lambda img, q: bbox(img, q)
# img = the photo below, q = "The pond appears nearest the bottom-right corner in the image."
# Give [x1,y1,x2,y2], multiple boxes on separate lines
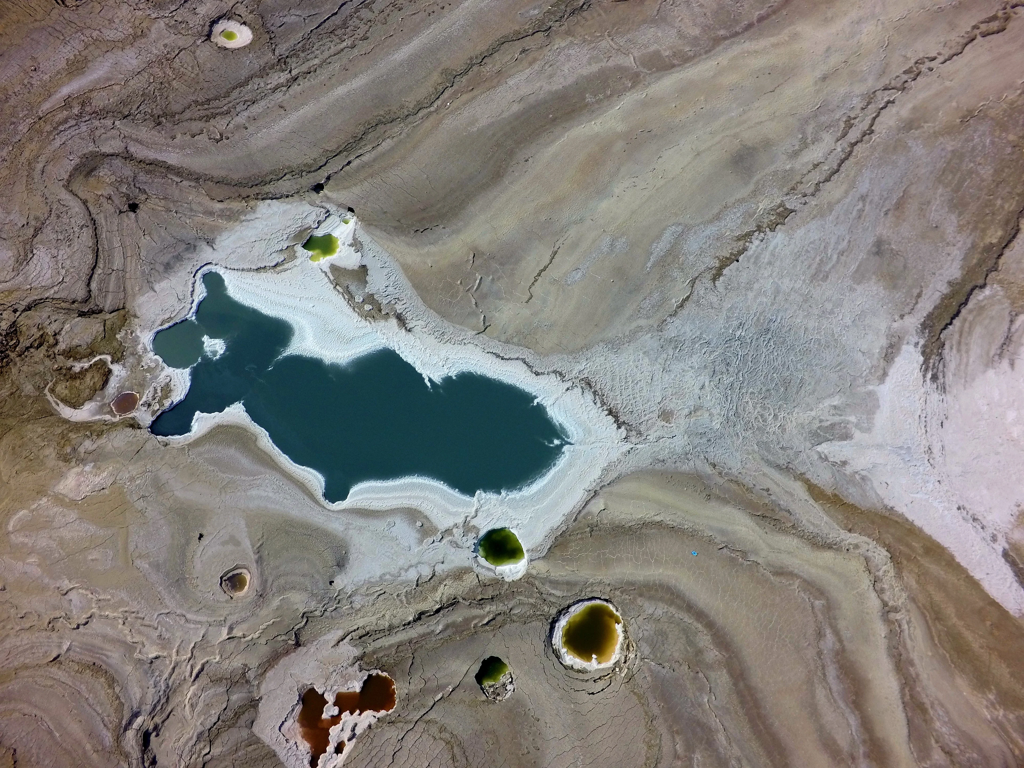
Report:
[569,610,612,656]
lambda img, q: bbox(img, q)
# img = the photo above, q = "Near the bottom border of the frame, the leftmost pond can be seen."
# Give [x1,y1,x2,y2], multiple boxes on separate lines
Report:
[302,677,393,760]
